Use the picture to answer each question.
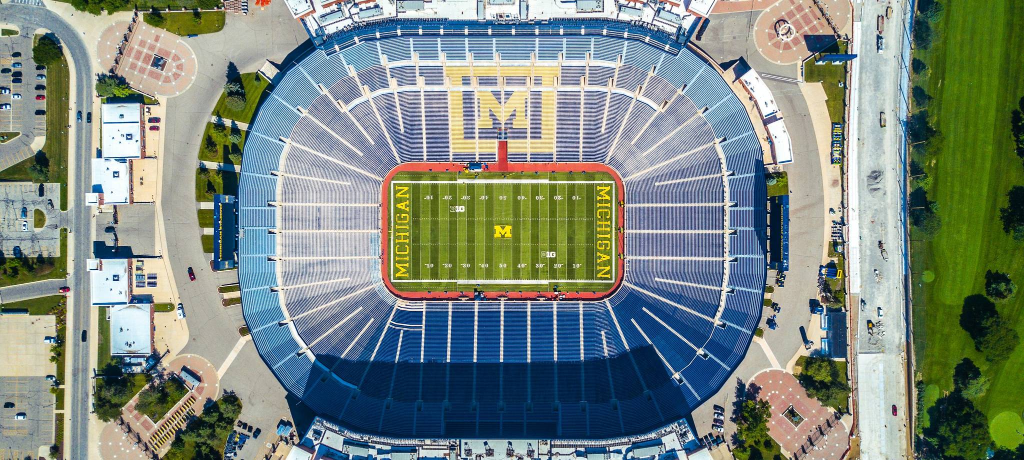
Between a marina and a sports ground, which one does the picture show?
sports ground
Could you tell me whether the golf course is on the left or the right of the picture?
right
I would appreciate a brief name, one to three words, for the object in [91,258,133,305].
building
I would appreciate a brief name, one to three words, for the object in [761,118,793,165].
building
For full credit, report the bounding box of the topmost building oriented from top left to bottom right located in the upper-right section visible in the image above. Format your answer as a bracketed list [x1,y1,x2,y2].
[737,69,778,120]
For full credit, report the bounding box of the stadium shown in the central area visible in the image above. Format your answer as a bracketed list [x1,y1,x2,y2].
[236,38,770,434]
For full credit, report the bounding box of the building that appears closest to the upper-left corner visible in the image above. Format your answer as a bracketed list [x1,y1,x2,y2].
[102,104,145,159]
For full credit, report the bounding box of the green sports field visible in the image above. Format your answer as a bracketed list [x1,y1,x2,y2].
[388,171,618,292]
